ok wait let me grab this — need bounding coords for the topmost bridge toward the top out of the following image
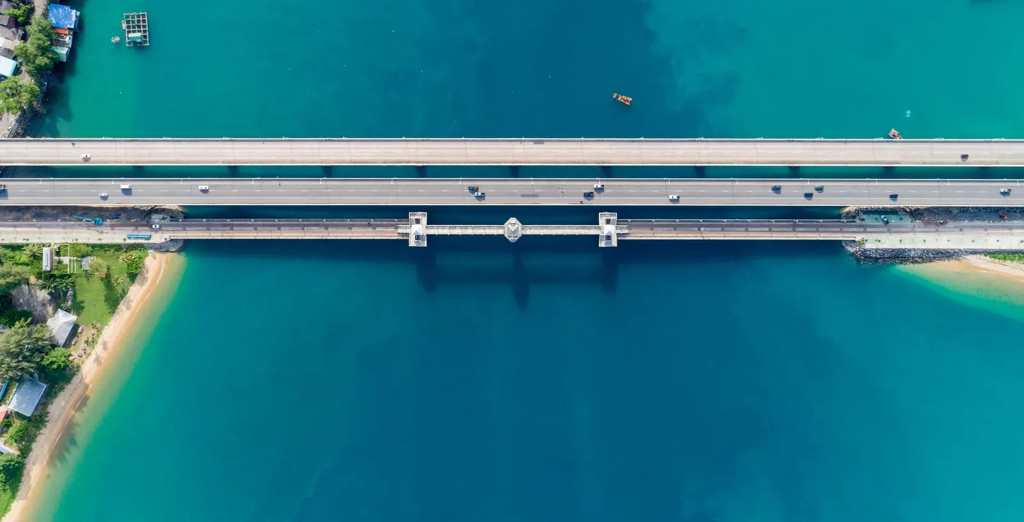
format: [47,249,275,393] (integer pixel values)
[0,137,1024,167]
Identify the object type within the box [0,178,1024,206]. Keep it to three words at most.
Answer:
bridge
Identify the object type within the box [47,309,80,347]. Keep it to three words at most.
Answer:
building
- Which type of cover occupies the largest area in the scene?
water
